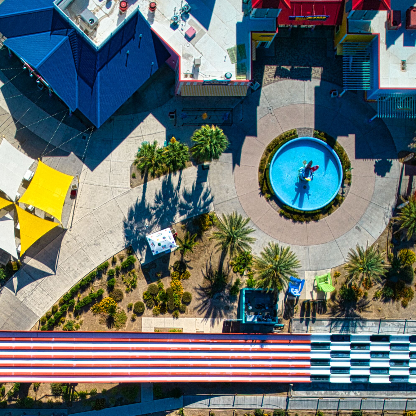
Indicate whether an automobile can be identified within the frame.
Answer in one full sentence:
No, the scene contains no automobile.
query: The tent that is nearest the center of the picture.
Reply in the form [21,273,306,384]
[144,227,177,257]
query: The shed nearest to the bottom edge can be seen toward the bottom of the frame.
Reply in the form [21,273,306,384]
[226,288,278,325]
